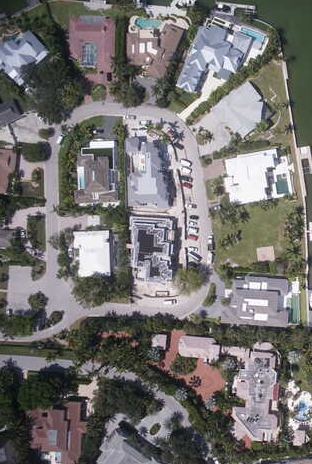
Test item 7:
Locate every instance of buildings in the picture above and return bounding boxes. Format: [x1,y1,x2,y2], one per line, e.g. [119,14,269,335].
[125,136,176,208]
[292,430,307,447]
[0,148,20,196]
[229,351,284,443]
[179,335,220,359]
[74,230,115,275]
[68,15,117,73]
[127,24,186,83]
[0,442,22,464]
[125,218,175,279]
[0,28,48,88]
[95,429,169,464]
[208,80,273,145]
[0,228,18,249]
[152,333,168,348]
[221,275,291,327]
[224,149,280,204]
[27,399,84,464]
[171,17,259,96]
[0,88,32,125]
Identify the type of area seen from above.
residential area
